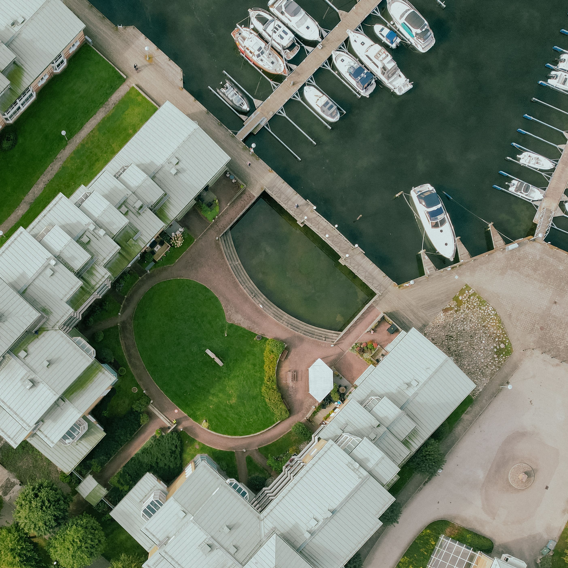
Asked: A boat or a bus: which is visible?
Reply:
boat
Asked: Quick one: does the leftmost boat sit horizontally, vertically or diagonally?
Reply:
diagonally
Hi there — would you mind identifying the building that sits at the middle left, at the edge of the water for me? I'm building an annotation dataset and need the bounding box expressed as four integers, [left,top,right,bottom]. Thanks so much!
[0,100,231,475]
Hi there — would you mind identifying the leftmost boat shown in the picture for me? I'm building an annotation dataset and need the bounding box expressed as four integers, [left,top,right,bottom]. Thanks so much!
[215,78,249,111]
